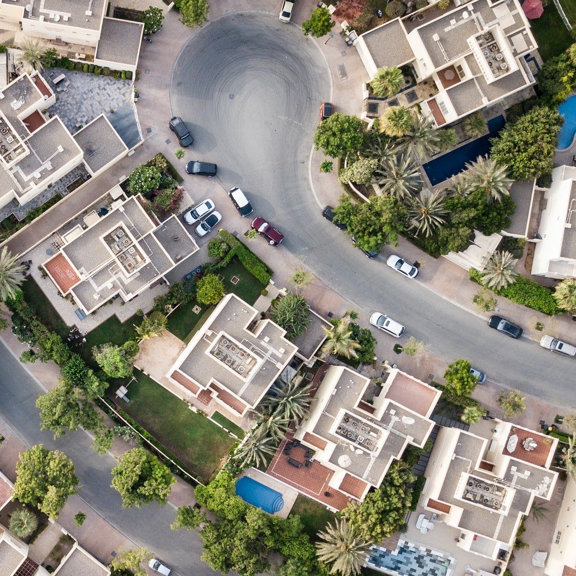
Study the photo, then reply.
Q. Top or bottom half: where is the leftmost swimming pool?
bottom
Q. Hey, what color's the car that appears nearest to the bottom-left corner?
white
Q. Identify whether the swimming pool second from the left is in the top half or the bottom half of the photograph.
bottom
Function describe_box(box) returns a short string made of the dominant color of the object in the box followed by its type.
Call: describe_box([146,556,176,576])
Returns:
white car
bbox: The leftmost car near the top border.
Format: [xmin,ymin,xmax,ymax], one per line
[276,0,298,25]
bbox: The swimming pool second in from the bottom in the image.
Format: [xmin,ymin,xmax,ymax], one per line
[231,471,289,514]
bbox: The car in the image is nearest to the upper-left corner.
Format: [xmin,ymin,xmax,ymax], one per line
[169,117,193,148]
